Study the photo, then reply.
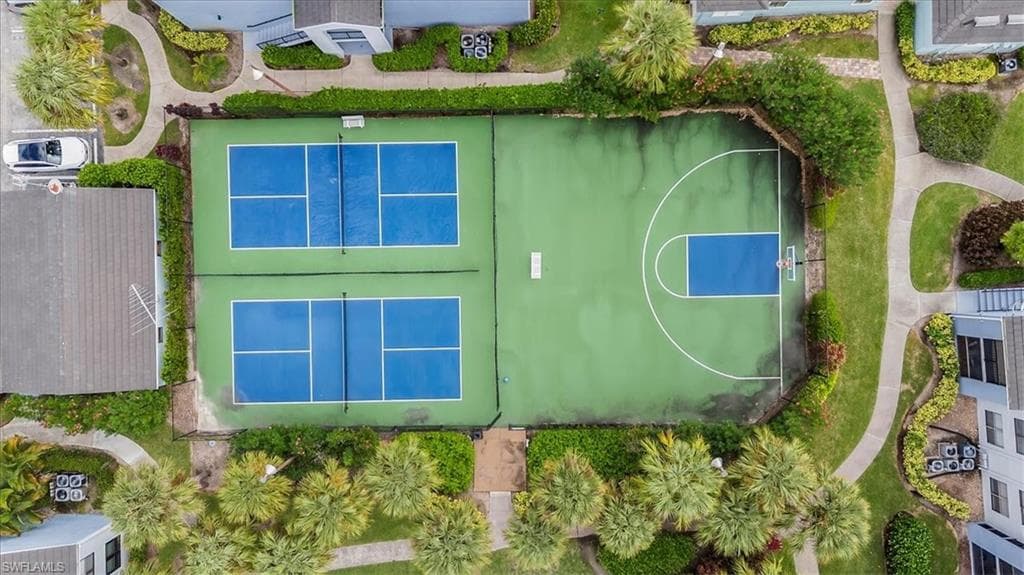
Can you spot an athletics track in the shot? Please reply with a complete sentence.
No, I can see no athletics track in this picture.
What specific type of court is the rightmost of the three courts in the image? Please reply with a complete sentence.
The rightmost of the three courts in the image is a basketball court.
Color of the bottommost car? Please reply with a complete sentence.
The bottommost car is white.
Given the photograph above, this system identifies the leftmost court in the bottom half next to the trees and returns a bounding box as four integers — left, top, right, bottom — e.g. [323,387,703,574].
[193,273,499,431]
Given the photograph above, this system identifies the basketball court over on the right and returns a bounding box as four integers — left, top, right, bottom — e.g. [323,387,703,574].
[495,110,806,430]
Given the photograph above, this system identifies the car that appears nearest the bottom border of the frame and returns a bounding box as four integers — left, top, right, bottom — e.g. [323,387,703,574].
[4,134,95,174]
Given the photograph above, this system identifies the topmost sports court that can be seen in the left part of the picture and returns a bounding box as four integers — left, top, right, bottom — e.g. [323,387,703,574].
[190,113,497,275]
